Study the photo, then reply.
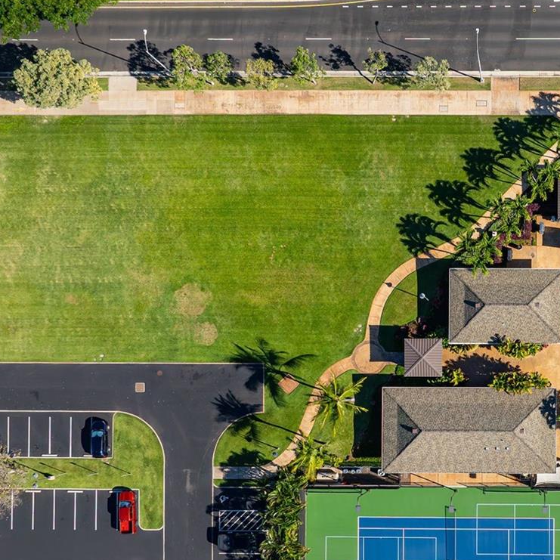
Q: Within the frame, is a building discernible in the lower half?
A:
Yes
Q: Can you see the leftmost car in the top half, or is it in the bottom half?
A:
bottom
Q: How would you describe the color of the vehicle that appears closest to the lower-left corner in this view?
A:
red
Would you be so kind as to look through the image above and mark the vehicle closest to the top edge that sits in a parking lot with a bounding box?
[87,417,109,456]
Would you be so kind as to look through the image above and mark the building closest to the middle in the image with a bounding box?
[403,337,443,378]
